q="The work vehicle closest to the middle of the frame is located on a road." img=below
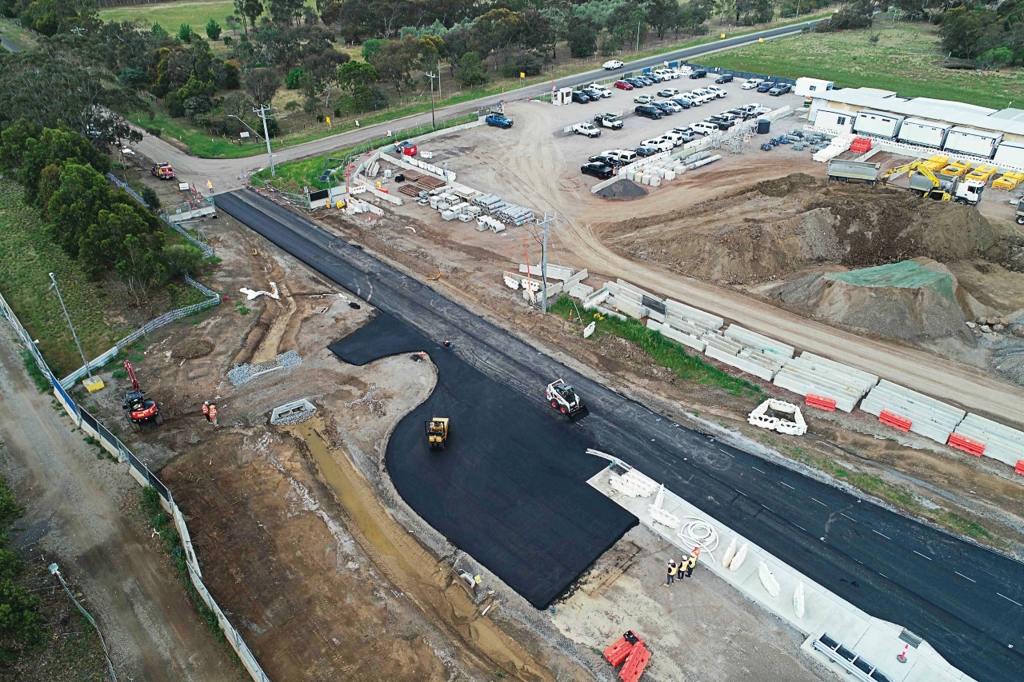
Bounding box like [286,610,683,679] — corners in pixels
[546,380,592,421]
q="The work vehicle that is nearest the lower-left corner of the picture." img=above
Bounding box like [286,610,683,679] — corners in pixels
[112,358,164,433]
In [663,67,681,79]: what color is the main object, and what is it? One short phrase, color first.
white vehicle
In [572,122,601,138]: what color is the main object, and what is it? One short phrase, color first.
white vehicle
